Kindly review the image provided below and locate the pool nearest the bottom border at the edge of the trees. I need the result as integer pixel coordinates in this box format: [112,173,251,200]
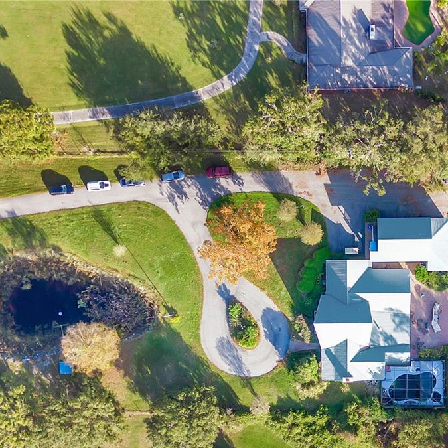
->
[388,371,441,403]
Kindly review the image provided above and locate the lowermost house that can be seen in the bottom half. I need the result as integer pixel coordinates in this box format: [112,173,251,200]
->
[313,259,411,384]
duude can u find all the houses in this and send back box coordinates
[299,0,414,90]
[313,259,411,384]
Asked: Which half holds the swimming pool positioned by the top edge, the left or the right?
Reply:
right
